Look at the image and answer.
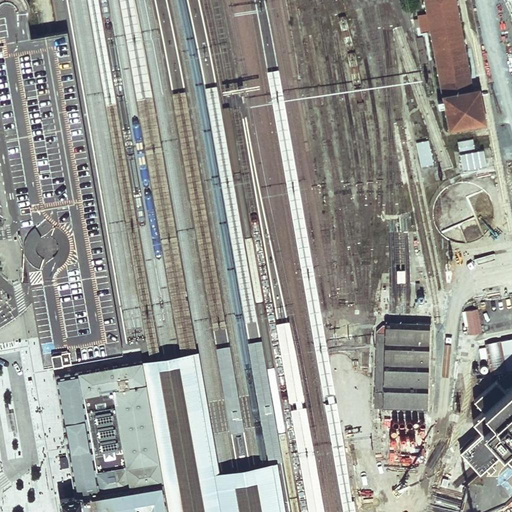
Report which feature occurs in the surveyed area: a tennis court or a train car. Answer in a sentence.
The one in the frame is a train car.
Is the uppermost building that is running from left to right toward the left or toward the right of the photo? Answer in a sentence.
You can find the uppermost building that is running from left to right on the left side of the picture.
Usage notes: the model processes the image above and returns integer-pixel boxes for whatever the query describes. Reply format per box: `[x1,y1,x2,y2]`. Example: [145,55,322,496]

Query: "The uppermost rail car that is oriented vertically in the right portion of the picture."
[340,14,354,48]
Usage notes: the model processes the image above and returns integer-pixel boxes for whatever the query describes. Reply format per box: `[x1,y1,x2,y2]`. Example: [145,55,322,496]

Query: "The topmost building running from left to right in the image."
[28,19,68,40]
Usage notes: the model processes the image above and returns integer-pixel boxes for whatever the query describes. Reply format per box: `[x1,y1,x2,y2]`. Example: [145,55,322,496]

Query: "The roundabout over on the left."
[24,224,70,270]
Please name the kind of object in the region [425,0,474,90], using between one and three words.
shed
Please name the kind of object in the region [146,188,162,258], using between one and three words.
rail car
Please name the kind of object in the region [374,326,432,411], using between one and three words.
building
